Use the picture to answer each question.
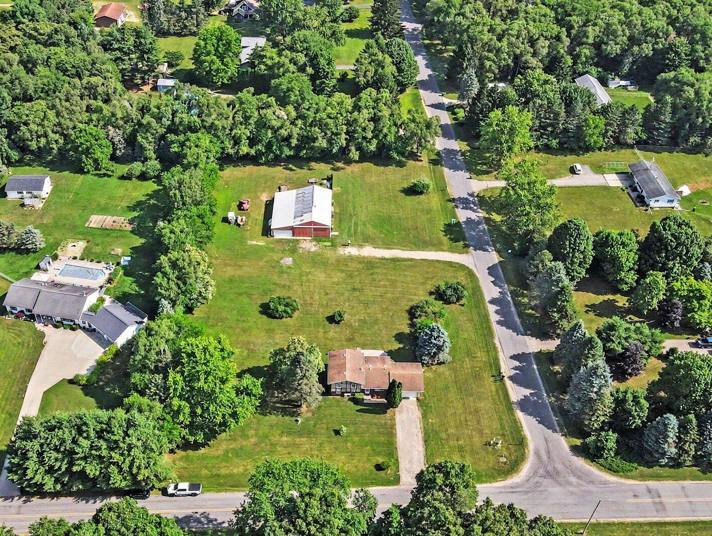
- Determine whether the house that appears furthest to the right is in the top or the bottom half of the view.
top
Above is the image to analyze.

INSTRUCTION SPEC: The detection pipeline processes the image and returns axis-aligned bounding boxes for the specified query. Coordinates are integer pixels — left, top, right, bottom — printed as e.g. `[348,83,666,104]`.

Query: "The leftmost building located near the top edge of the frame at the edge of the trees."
[98,2,131,27]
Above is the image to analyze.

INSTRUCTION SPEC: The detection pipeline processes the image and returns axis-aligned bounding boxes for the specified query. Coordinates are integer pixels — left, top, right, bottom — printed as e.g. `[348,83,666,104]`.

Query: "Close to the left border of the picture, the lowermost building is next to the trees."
[1,278,146,344]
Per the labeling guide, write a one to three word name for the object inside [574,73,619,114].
house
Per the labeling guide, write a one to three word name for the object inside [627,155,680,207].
house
